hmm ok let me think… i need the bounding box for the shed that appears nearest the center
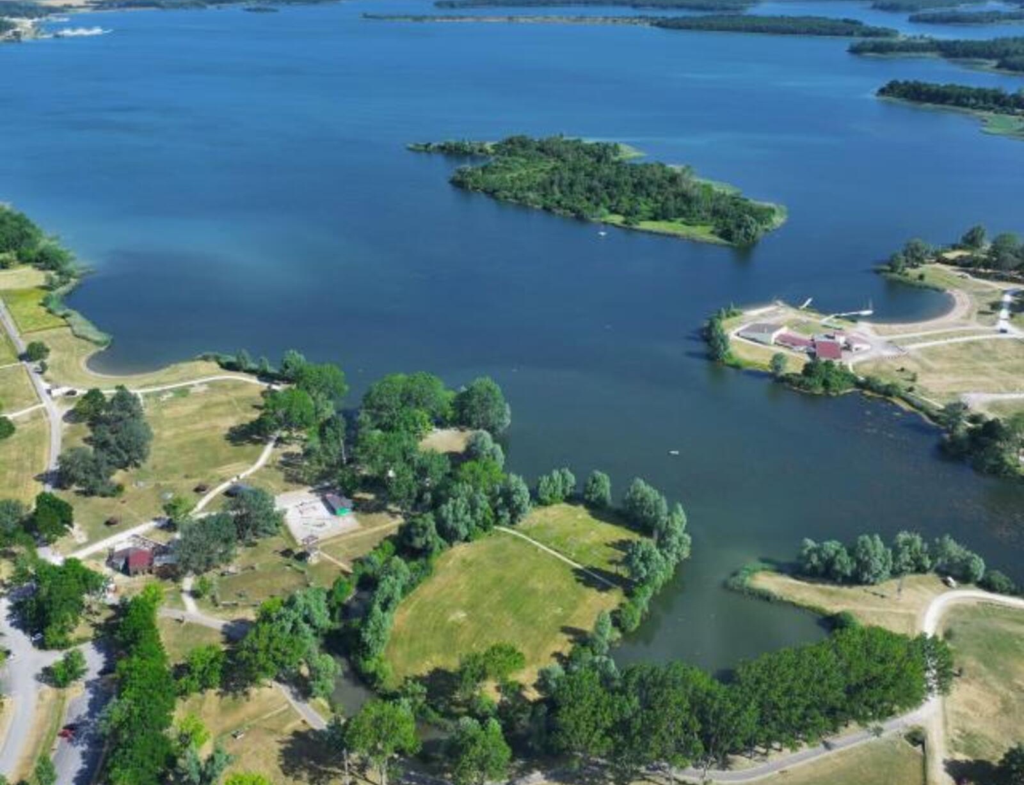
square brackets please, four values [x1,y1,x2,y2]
[328,487,352,519]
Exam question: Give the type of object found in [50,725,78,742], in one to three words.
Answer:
car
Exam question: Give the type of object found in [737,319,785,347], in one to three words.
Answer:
building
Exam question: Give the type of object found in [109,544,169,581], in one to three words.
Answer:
building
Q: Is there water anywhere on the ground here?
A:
Yes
